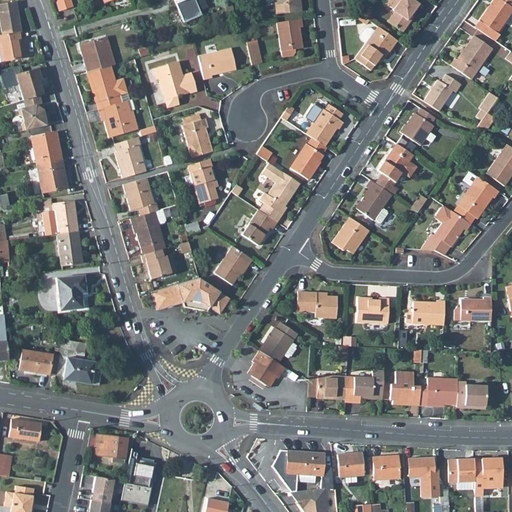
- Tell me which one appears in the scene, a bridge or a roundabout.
roundabout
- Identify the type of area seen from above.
residential area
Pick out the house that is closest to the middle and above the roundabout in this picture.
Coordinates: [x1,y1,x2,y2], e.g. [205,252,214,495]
[212,248,252,286]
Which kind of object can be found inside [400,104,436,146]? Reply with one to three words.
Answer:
house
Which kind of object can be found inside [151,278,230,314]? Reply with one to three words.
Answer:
building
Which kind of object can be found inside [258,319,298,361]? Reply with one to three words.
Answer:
house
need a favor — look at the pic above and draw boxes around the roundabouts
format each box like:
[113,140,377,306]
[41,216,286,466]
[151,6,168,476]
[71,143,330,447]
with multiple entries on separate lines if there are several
[138,364,252,462]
